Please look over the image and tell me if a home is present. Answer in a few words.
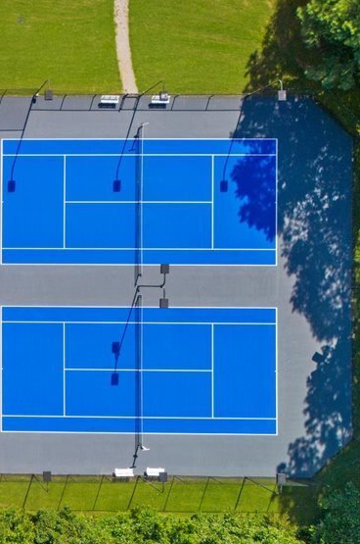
No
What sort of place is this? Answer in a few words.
sports ground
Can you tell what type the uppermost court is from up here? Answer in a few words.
tennis court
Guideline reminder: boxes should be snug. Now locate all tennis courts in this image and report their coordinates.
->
[2,139,279,266]
[1,306,279,436]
